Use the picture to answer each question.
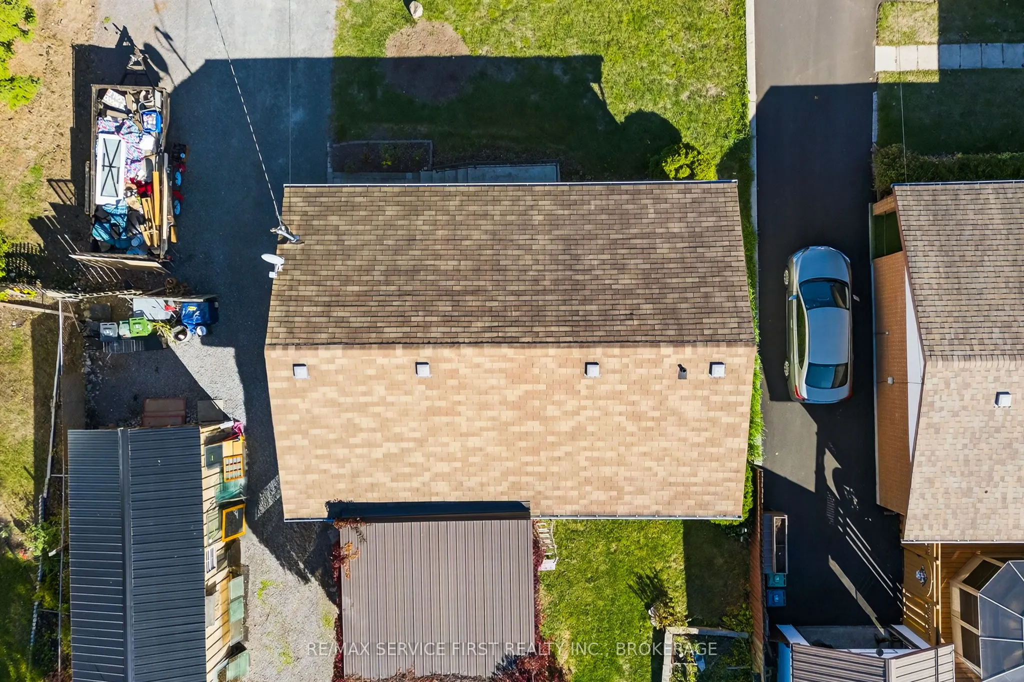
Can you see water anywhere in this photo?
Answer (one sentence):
No, the scene doesn't show any water.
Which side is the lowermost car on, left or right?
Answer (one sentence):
It is on the right.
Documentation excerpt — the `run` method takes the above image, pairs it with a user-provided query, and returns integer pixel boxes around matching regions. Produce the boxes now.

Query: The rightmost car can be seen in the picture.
[781,246,858,405]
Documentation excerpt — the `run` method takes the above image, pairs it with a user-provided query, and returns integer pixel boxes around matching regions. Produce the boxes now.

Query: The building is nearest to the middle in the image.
[264,179,757,523]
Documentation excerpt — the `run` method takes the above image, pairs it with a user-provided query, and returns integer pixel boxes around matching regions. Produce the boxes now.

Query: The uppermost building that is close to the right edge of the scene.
[868,181,1024,546]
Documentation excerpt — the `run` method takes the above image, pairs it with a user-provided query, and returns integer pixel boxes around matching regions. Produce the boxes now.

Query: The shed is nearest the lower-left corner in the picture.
[67,425,222,682]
